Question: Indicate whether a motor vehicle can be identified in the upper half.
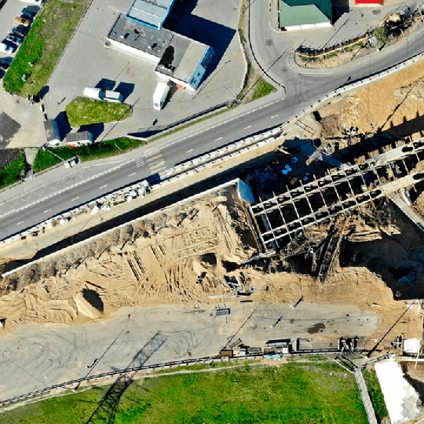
Yes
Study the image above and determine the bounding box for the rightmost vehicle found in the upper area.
[153,82,171,113]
